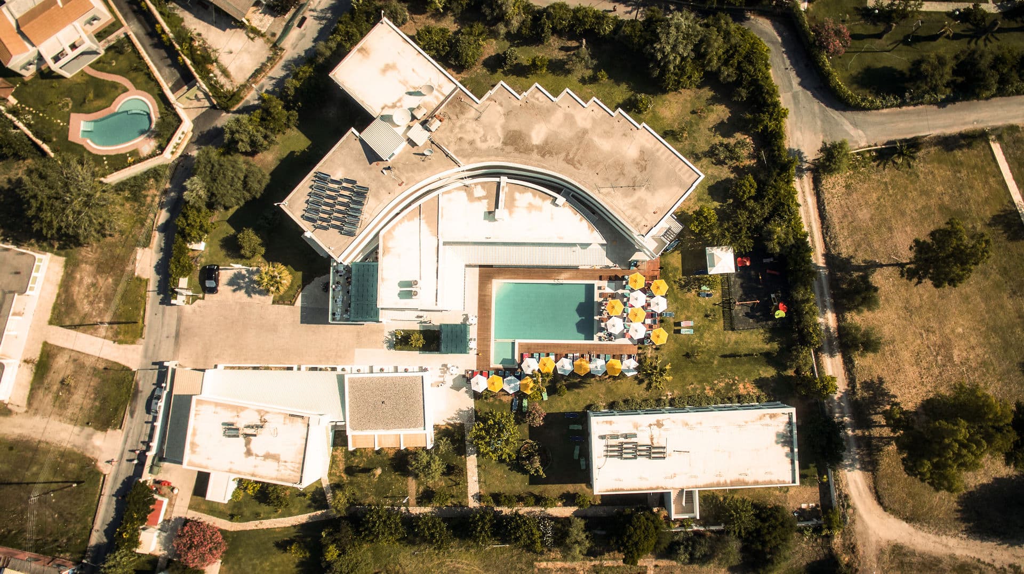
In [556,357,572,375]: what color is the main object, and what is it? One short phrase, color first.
white umbrella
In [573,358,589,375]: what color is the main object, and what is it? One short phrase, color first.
yellow umbrella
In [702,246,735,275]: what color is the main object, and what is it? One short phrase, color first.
white gazebo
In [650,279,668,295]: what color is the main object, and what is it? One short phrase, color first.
yellow umbrella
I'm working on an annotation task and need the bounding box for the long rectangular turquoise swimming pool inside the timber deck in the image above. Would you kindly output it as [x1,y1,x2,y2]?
[490,278,638,368]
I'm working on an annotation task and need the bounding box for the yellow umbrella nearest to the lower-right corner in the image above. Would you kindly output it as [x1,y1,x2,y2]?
[650,328,668,343]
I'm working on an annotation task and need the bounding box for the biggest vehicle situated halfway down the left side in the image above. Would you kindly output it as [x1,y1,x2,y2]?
[204,264,221,294]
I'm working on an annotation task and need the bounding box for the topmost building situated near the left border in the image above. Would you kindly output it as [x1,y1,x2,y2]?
[0,0,127,86]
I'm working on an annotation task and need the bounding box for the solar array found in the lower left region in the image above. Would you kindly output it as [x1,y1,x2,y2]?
[223,420,264,436]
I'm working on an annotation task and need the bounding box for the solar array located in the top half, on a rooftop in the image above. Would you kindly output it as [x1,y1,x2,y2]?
[304,172,369,237]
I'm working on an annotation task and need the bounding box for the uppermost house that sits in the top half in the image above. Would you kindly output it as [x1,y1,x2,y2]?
[206,0,263,31]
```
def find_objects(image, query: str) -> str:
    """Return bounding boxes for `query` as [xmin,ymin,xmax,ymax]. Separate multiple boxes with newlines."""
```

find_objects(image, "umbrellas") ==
[650,328,668,343]
[628,272,644,289]
[605,299,623,315]
[628,306,646,323]
[606,316,623,334]
[556,357,572,375]
[520,357,538,375]
[621,358,638,376]
[628,321,646,340]
[538,357,556,372]
[628,290,645,308]
[650,279,668,295]
[487,374,504,392]
[471,374,488,393]
[504,375,520,394]
[573,358,589,375]
[589,358,606,375]
[519,376,535,394]
[605,358,622,374]
[650,295,667,313]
